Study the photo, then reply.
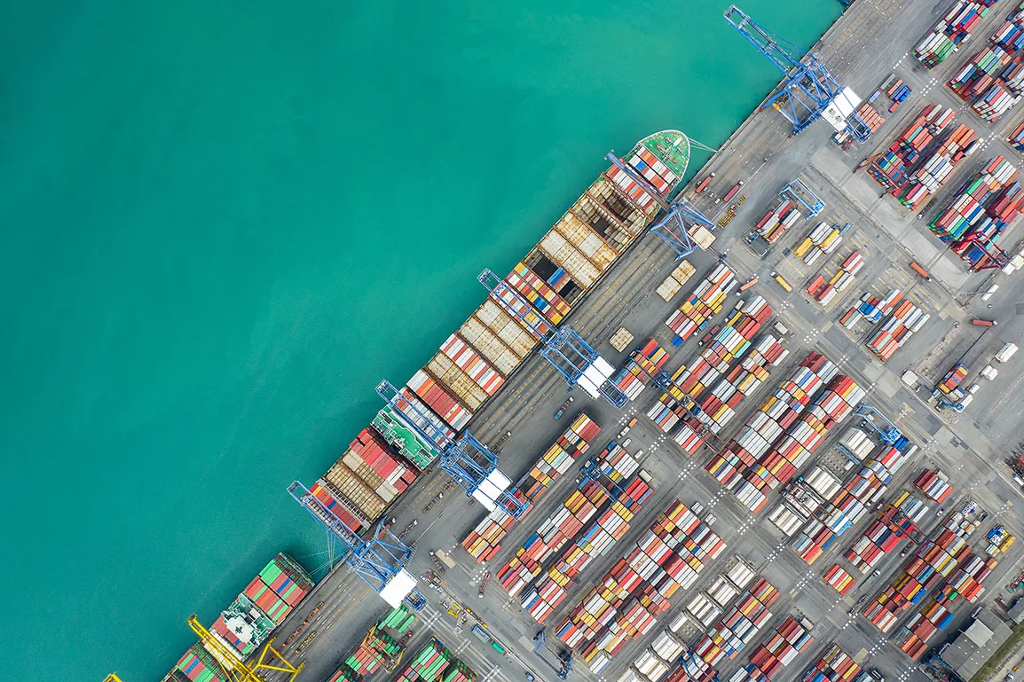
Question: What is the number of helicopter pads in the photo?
0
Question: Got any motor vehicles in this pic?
Yes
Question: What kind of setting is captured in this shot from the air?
port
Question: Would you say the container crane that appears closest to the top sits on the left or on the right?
right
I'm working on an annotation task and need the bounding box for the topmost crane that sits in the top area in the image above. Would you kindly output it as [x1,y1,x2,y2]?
[722,0,876,144]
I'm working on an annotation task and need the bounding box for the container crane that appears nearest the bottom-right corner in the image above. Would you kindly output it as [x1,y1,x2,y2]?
[861,496,924,551]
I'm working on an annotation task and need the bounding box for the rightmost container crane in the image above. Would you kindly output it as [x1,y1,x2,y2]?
[948,231,1011,275]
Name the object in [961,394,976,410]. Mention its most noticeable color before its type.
white vehicle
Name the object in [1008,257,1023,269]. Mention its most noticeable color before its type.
white vehicle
